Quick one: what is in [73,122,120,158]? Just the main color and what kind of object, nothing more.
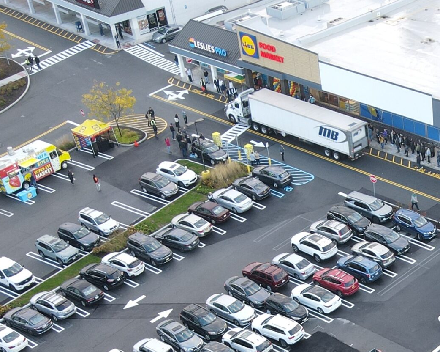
yellow tent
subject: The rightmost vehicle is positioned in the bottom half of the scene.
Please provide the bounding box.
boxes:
[391,209,438,239]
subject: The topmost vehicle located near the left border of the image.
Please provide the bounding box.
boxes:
[0,141,66,191]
